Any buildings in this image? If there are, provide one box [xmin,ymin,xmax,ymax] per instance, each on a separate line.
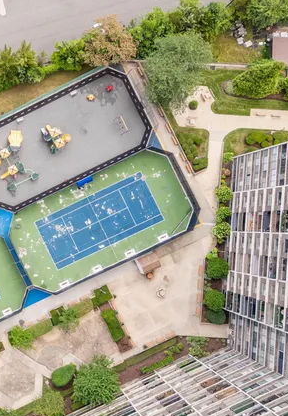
[264,38,288,72]
[137,252,167,277]
[61,143,288,416]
